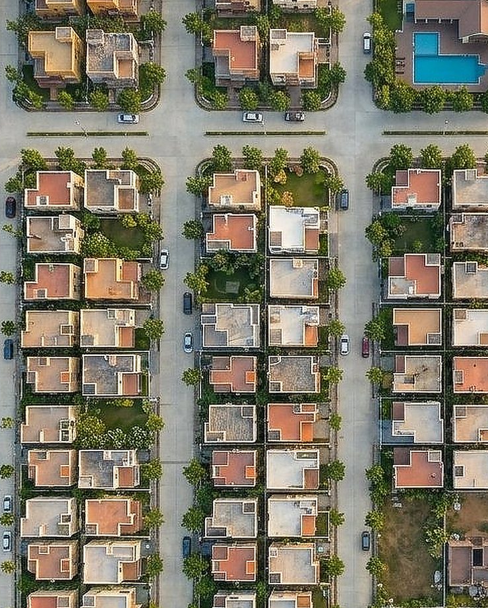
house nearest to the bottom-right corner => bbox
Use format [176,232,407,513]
[446,538,488,587]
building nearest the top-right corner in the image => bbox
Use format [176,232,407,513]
[414,0,488,44]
